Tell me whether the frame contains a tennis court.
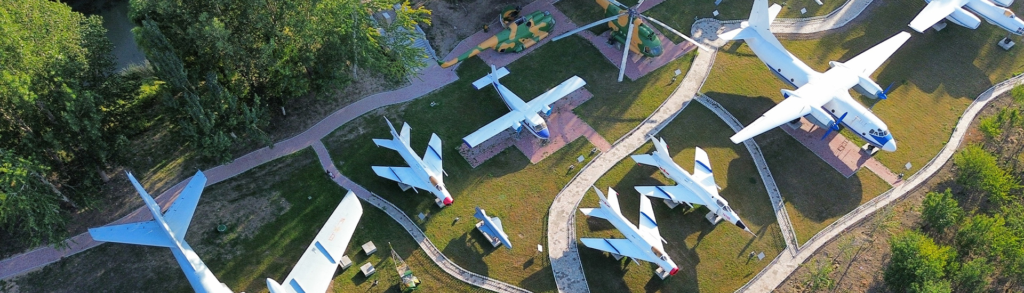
No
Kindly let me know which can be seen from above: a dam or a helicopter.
helicopter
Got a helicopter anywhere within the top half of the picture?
Yes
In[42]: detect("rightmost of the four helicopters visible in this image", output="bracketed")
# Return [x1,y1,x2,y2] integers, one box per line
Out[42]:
[556,0,706,78]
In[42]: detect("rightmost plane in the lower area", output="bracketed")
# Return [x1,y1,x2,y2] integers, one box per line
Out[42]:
[631,134,757,244]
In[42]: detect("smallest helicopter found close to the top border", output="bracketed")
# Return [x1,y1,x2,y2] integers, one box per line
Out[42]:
[482,5,521,30]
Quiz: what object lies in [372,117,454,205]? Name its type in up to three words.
airplane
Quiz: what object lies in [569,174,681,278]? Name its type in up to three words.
airplane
